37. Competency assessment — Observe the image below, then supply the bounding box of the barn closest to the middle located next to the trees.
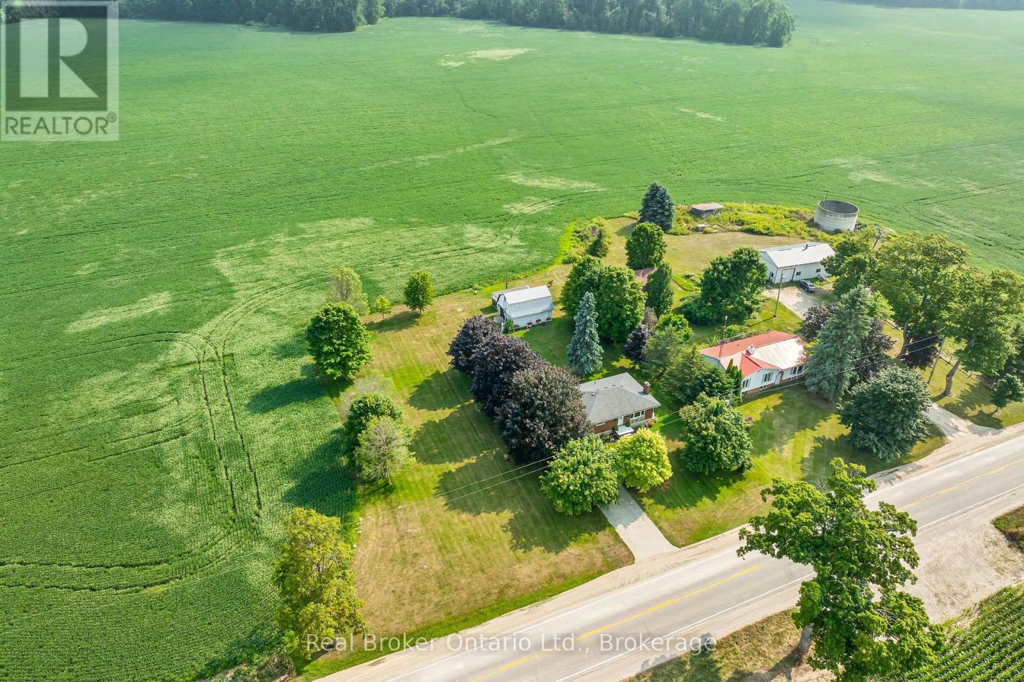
[492,286,556,328]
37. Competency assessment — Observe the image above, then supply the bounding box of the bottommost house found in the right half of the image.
[577,373,661,439]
